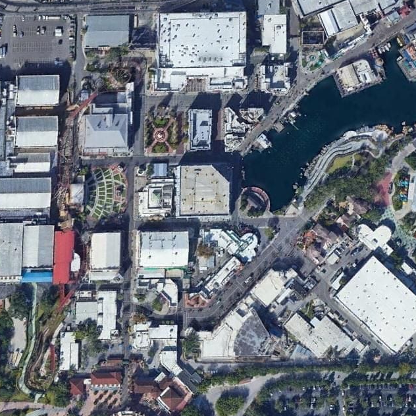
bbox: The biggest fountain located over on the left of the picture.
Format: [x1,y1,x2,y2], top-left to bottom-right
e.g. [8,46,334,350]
[151,127,168,144]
